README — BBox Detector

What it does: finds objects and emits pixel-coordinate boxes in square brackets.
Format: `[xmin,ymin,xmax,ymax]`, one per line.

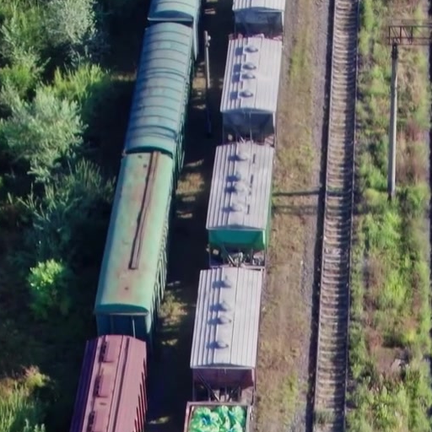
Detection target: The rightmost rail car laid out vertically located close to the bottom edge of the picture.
[190,267,266,425]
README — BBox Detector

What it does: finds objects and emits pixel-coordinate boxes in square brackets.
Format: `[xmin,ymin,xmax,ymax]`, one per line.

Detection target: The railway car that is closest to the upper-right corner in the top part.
[231,0,291,55]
